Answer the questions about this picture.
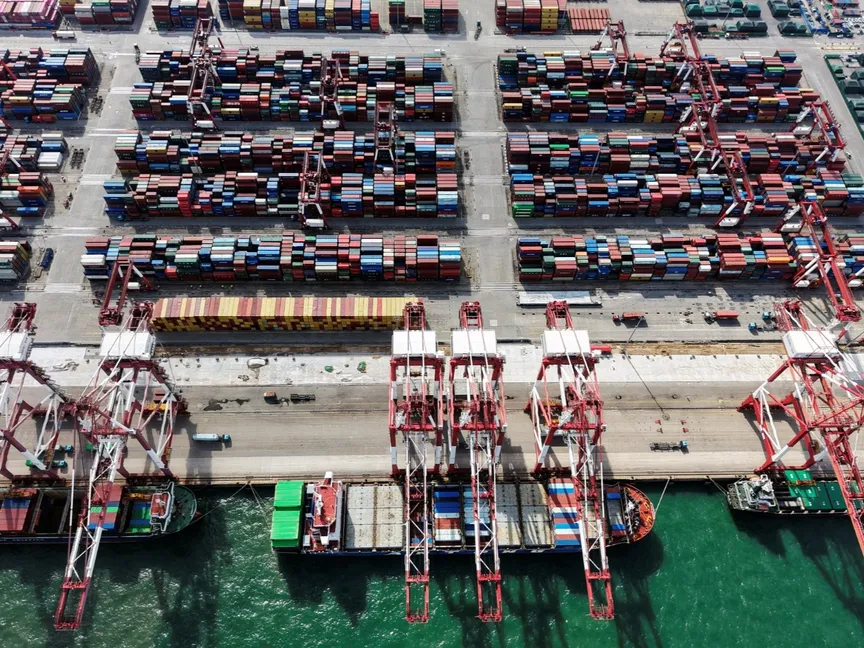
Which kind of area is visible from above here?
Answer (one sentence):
What you see here is a port.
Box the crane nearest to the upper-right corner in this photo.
[788,106,852,181]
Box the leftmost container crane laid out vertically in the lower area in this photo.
[0,302,83,494]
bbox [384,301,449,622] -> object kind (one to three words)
container crane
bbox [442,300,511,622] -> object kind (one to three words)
container crane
